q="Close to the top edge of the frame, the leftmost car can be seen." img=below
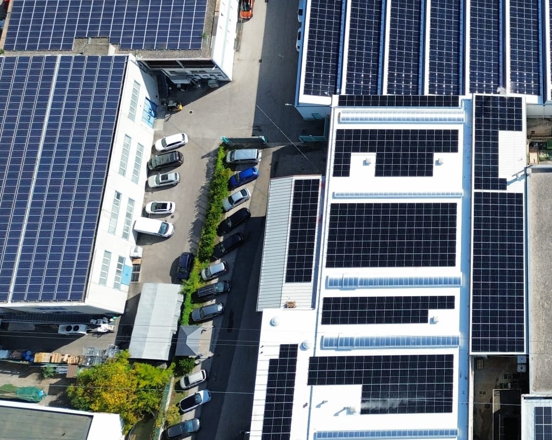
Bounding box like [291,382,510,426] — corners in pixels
[237,0,255,20]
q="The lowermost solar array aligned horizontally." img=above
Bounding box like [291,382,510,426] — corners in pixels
[307,354,453,413]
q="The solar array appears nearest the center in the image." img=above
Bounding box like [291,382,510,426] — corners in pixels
[286,179,319,282]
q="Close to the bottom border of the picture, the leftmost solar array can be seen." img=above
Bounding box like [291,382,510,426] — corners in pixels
[262,344,298,440]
